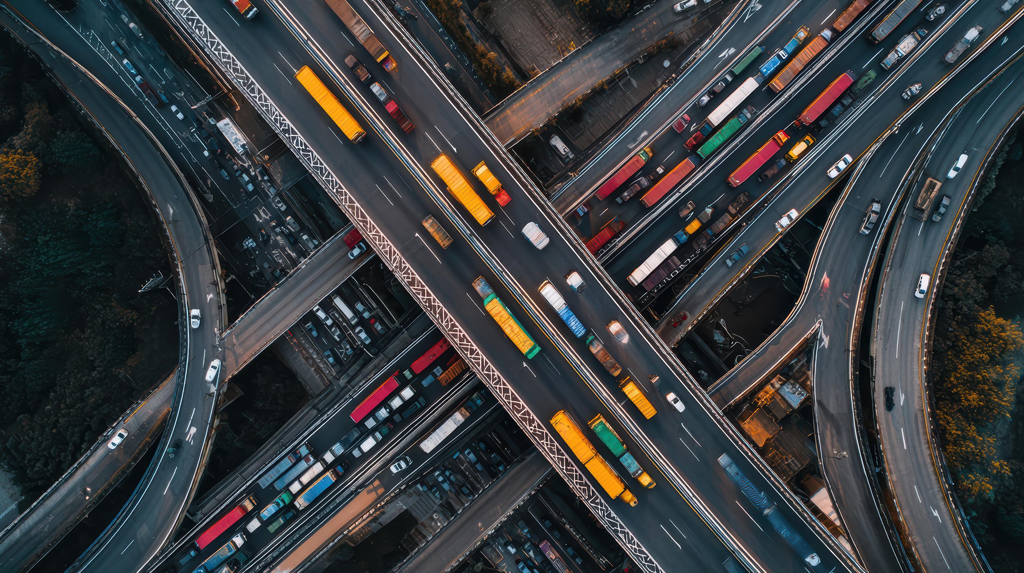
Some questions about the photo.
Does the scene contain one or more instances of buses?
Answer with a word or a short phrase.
Yes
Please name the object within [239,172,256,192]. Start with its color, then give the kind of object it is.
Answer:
blue vehicle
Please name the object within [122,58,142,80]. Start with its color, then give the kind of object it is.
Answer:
blue vehicle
